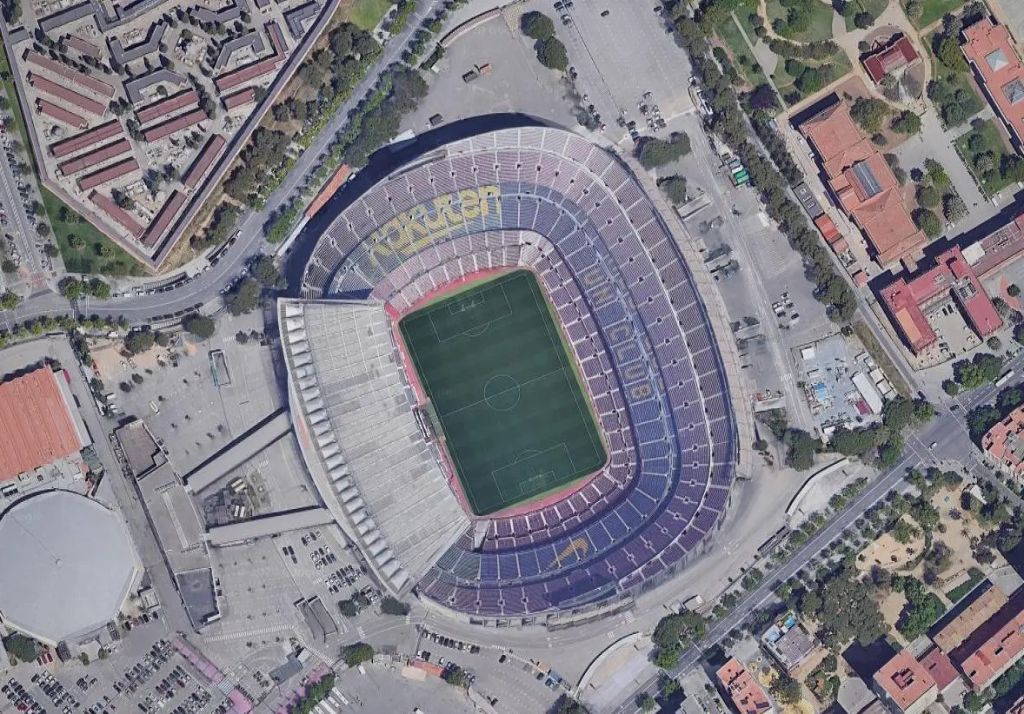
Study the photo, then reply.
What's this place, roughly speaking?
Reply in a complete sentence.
The picture captures a sports ground.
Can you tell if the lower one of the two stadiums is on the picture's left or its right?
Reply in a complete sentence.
It is on the left.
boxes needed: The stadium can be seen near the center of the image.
[277,118,764,638]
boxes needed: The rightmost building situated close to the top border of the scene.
[959,16,1024,164]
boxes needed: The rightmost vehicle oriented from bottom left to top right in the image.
[994,373,1012,388]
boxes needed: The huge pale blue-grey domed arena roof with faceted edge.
[0,488,138,645]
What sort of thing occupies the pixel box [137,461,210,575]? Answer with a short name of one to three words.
building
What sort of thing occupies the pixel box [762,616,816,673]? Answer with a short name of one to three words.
house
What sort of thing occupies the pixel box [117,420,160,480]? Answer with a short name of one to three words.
building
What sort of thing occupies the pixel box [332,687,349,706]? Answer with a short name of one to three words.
vehicle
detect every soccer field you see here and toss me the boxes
[396,264,610,524]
